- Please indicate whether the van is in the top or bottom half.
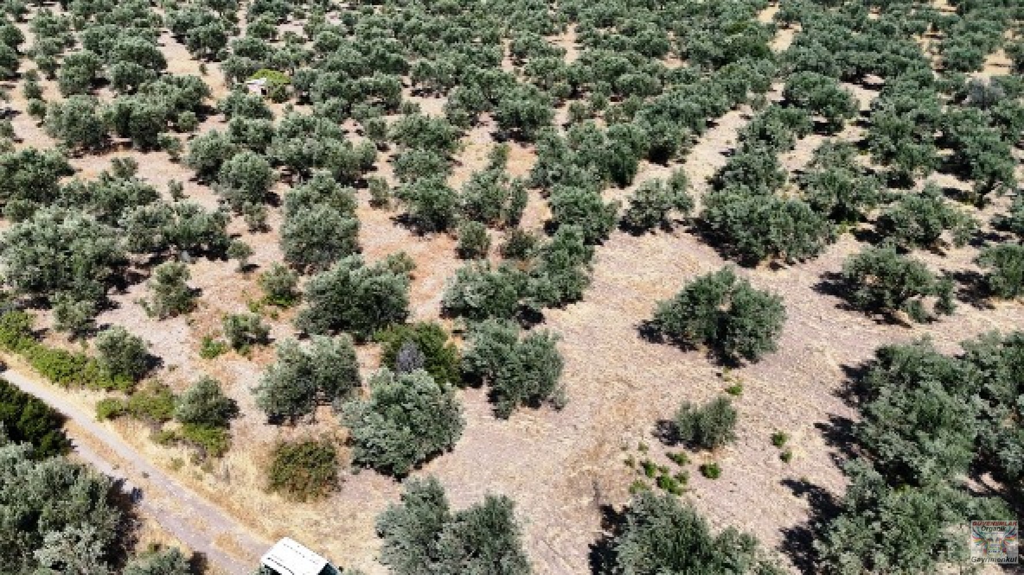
bottom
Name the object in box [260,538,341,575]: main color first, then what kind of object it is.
white van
